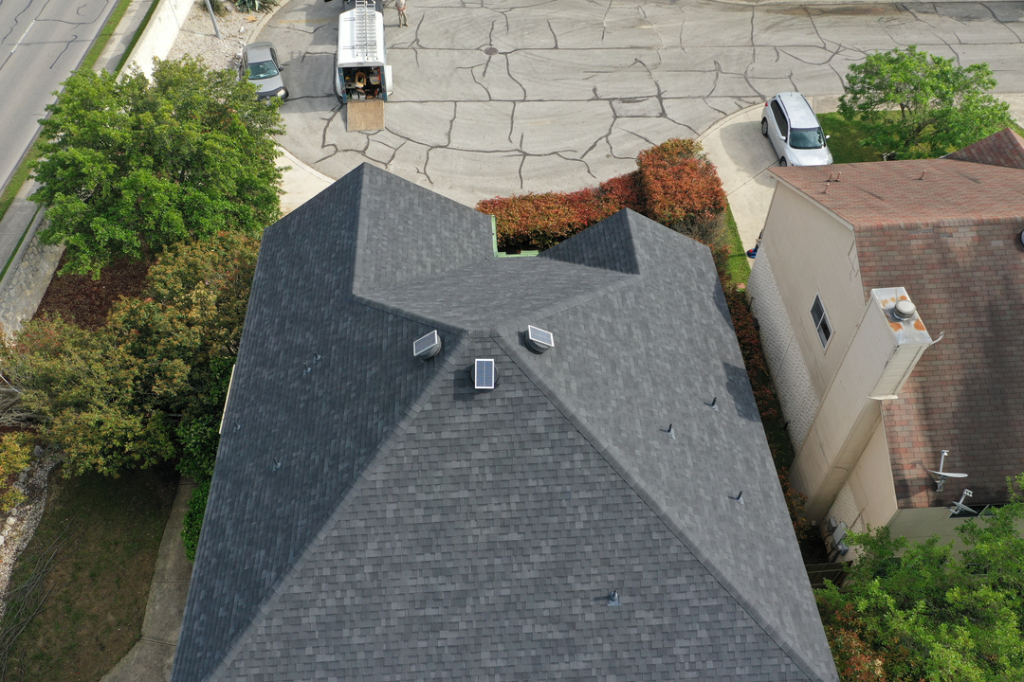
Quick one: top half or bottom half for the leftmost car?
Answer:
top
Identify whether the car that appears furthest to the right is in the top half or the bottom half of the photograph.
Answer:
top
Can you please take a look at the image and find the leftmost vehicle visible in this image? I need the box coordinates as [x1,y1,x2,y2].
[240,41,287,100]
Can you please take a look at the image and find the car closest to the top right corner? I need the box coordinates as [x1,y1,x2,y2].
[759,87,834,168]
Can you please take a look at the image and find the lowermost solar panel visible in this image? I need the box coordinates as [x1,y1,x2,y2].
[474,359,494,390]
